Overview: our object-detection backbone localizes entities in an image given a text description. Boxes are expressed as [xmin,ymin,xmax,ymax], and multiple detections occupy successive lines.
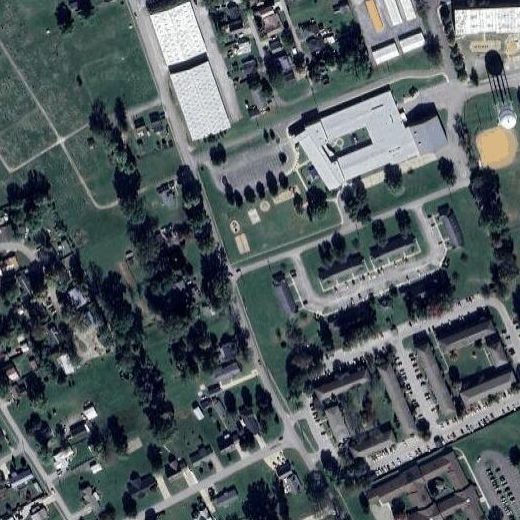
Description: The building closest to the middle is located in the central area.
[273,278,297,312]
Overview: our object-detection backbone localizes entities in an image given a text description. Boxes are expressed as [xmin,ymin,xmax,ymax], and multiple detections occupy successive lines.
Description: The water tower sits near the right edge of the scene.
[495,97,520,128]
